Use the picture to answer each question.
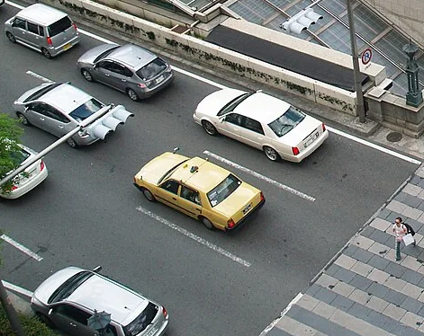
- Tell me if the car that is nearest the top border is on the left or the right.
left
